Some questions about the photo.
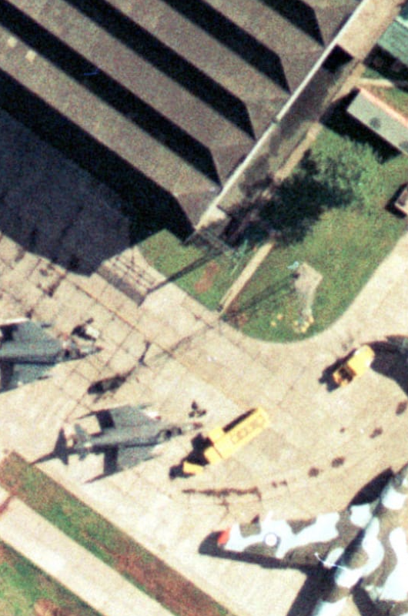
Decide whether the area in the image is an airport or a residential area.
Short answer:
airport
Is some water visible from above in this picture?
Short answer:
No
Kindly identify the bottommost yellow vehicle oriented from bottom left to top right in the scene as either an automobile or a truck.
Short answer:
truck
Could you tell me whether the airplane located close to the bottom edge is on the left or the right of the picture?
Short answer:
right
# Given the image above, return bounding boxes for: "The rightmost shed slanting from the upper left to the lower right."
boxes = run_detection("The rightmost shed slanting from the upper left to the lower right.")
[346,82,408,156]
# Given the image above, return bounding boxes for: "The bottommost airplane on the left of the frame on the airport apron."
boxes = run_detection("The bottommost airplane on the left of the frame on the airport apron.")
[78,409,203,476]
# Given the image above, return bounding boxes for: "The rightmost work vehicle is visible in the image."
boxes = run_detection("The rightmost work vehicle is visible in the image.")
[335,345,374,384]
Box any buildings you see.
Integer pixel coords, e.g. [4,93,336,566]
[346,82,408,156]
[378,10,408,66]
[0,0,365,241]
